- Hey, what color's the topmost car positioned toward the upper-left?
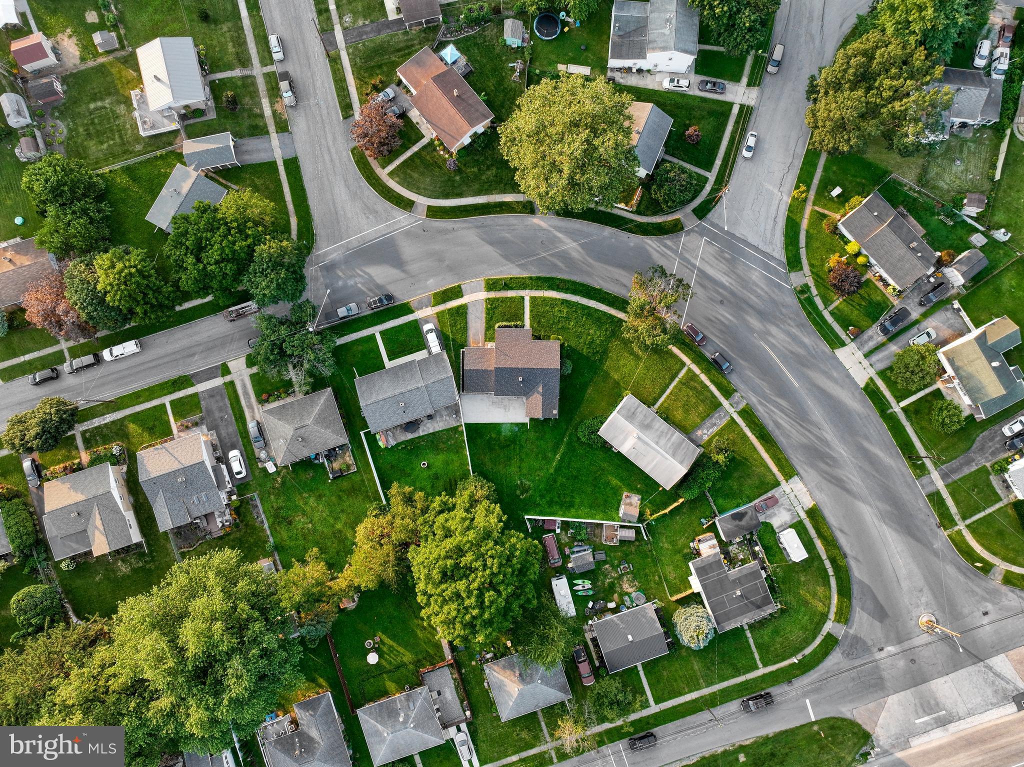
white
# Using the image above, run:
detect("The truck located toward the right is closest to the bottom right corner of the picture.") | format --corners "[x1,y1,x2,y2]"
[739,690,776,711]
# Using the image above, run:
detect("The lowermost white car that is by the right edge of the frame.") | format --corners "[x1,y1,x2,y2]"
[998,415,1024,438]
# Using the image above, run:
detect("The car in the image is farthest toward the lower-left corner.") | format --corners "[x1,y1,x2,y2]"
[23,456,43,488]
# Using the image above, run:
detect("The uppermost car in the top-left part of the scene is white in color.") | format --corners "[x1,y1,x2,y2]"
[267,31,287,65]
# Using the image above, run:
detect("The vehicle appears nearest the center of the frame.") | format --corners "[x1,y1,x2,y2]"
[424,320,443,355]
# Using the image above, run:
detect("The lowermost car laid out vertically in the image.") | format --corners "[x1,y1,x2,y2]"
[456,729,472,761]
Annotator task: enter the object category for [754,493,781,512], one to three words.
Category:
car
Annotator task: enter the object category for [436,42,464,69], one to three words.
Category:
gazebo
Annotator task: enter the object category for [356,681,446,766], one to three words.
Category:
house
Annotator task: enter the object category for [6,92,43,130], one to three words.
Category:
shed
